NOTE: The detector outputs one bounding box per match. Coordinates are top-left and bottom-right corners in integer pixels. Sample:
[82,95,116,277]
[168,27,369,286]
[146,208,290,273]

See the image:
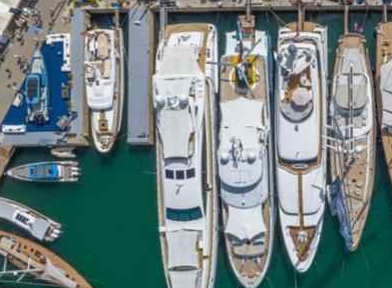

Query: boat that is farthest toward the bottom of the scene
[0,226,100,288]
